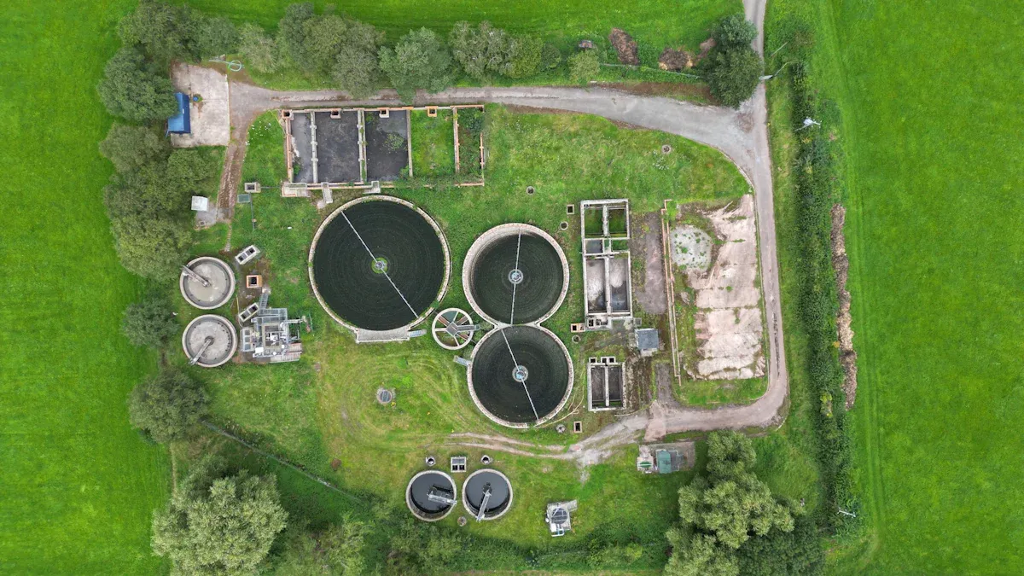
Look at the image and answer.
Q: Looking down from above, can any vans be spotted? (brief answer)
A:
No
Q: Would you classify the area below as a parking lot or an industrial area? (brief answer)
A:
industrial area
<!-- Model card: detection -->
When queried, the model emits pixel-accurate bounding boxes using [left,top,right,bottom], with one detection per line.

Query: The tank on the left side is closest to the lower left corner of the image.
[182,312,240,368]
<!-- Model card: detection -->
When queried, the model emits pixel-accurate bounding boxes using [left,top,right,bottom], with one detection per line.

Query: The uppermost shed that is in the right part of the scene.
[635,329,658,356]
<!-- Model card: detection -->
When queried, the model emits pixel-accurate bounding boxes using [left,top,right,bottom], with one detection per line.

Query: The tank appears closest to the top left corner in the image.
[177,255,238,311]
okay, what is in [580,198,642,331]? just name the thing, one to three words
storage tank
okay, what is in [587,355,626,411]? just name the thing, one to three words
storage tank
